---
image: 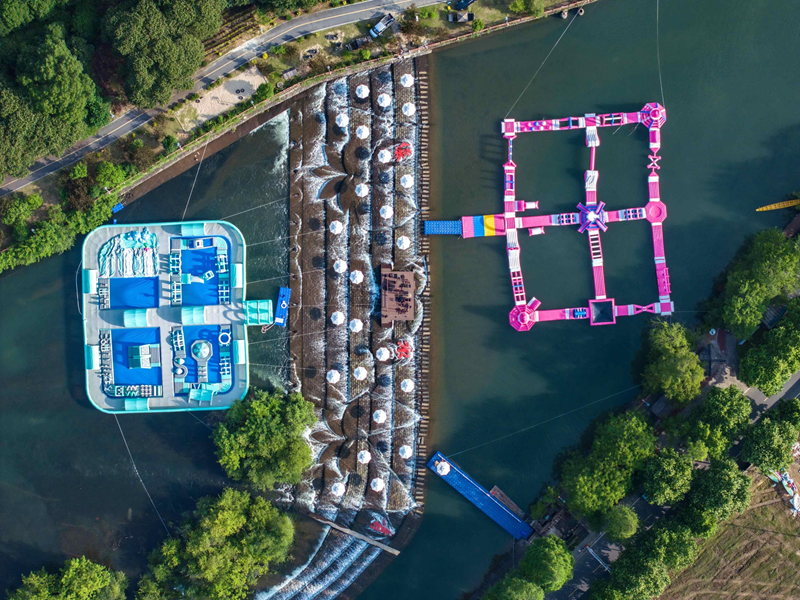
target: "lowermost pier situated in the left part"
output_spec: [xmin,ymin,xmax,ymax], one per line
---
[274,287,291,326]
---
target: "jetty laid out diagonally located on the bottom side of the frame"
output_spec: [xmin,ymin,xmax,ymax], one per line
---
[427,452,527,538]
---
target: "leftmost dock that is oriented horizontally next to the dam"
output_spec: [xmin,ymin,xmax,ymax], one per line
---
[424,220,462,234]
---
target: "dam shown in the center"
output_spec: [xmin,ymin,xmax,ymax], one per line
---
[259,51,431,600]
